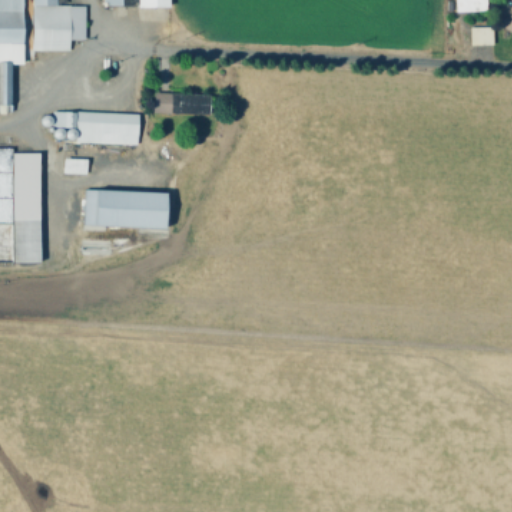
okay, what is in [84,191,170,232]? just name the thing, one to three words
shed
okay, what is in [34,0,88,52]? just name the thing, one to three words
building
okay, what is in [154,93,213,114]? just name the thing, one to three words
house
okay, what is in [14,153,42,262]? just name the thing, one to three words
barn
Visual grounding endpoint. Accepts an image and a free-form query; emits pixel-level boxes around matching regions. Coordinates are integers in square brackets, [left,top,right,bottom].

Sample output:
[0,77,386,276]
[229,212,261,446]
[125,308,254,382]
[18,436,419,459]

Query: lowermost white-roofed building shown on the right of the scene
[472,27,495,46]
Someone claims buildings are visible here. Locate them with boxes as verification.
[14,153,42,262]
[457,0,490,13]
[472,27,495,46]
[154,93,213,114]
[106,0,138,6]
[0,0,26,64]
[64,158,89,175]
[0,148,14,262]
[34,0,88,52]
[140,0,172,8]
[84,191,170,232]
[54,112,140,146]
